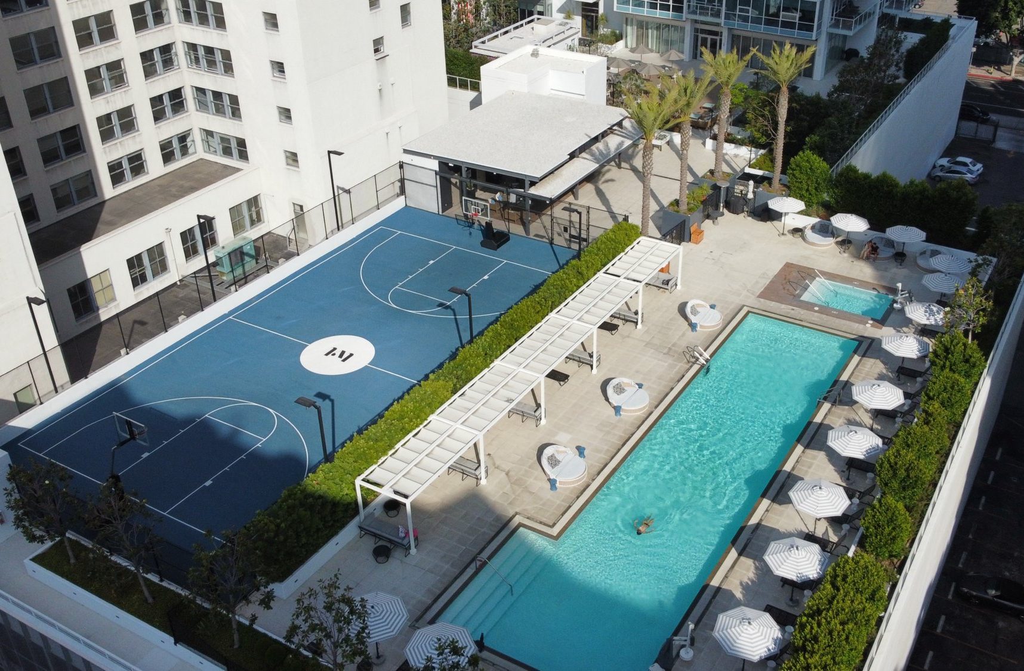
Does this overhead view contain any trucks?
No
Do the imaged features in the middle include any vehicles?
No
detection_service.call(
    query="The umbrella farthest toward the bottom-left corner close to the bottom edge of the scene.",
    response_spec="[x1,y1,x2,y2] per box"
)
[349,592,417,665]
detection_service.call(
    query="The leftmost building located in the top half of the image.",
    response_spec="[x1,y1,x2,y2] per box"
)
[0,0,448,424]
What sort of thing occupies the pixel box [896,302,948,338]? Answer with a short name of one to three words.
umbrella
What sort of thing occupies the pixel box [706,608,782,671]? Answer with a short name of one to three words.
umbrella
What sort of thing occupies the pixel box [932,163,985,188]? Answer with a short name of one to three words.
car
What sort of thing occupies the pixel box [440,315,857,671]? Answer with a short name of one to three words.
swimming pool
